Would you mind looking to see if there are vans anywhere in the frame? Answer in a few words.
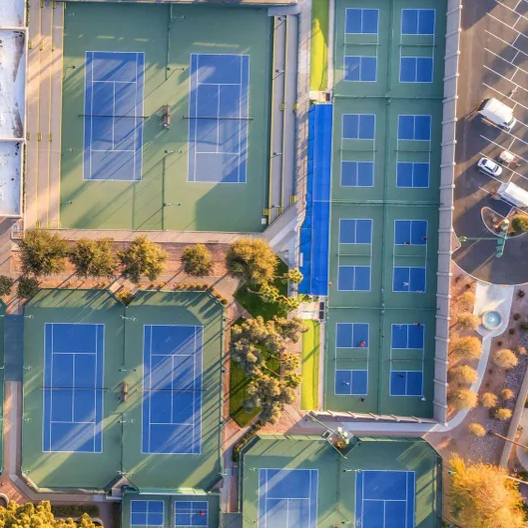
Yes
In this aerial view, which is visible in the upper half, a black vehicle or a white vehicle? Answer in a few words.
white vehicle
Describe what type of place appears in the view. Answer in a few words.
sports ground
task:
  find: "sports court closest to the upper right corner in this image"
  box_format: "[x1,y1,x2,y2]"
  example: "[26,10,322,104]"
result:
[387,0,447,98]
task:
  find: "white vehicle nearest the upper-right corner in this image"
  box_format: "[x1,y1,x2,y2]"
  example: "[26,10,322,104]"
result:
[474,96,510,124]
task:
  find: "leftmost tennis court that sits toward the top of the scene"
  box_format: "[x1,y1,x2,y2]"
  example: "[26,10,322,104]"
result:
[60,2,169,231]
